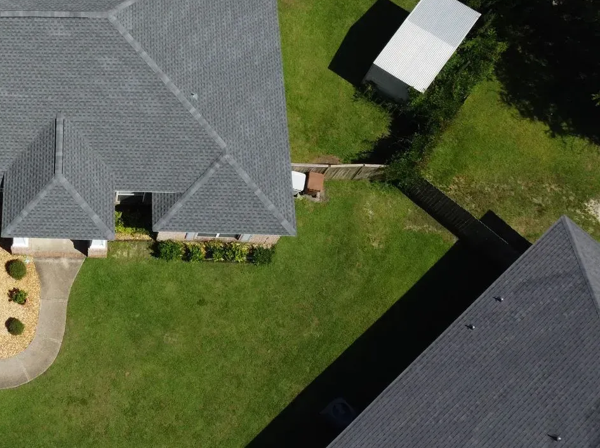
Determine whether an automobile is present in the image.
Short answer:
No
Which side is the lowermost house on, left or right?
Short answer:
right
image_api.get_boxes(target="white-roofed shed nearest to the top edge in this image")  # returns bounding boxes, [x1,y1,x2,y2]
[364,0,482,107]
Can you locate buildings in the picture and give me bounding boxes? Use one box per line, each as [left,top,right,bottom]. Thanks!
[326,217,600,448]
[364,0,482,107]
[0,0,298,263]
